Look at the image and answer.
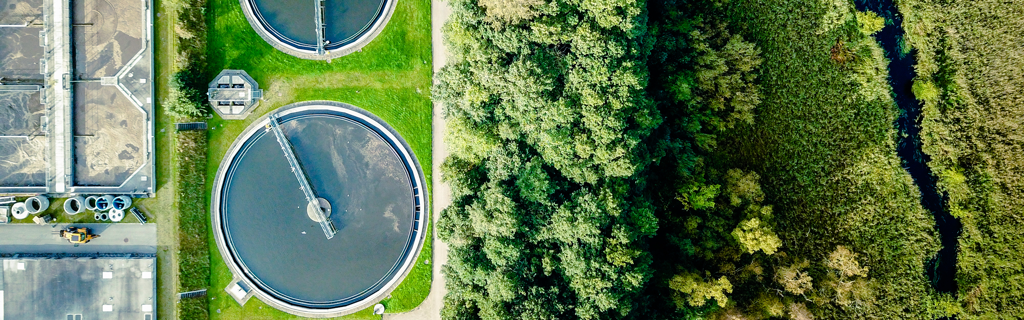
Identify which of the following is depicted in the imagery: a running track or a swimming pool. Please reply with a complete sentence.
The image shows a running track.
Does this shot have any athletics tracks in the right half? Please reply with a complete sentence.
No, looking in the right half, there is no athletics track.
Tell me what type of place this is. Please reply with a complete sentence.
The picture captures an industrial area.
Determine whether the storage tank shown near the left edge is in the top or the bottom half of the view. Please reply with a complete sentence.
Seen from above, the storage tank shown near the left edge lies in the top half of the view.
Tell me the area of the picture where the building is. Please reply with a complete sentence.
The building appears toward the bottom left of the photo.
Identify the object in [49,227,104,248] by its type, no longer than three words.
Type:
work vehicle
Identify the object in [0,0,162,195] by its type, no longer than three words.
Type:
storage tank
